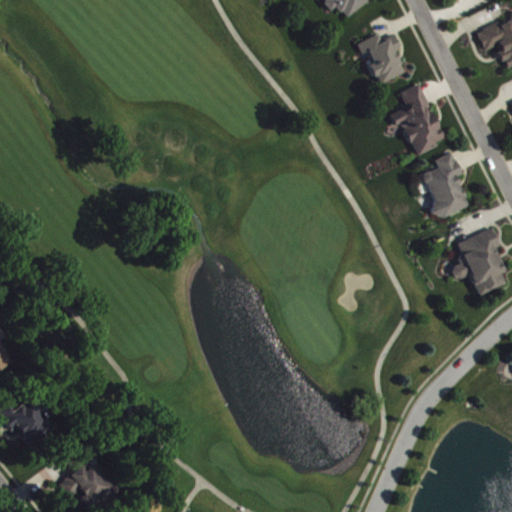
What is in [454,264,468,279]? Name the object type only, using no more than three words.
gazebo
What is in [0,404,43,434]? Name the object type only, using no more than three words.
house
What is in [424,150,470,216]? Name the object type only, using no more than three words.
house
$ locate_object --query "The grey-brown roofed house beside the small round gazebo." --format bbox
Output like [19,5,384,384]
[458,226,511,290]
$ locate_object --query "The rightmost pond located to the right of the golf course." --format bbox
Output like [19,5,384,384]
[408,420,512,512]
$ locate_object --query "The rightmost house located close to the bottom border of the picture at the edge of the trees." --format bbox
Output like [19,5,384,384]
[69,466,114,501]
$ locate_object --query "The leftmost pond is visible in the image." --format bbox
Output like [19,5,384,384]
[189,250,364,472]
